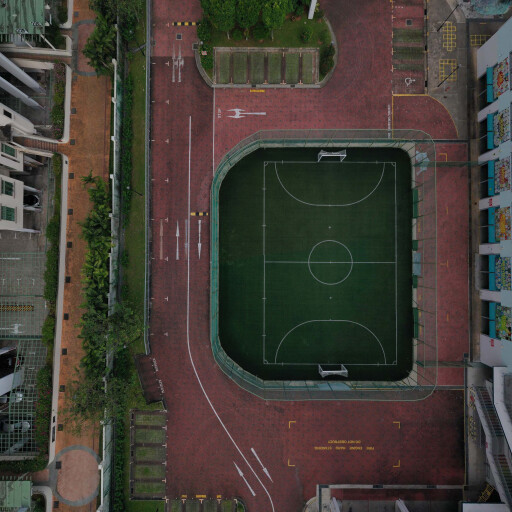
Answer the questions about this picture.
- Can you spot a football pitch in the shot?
Yes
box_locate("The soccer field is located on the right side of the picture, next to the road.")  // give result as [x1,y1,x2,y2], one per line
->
[212,142,416,388]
